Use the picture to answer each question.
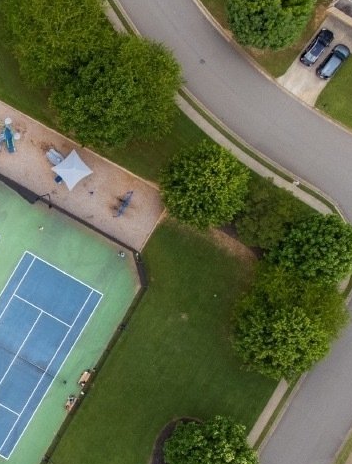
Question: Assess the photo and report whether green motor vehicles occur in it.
No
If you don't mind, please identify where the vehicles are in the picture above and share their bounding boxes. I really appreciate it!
[315,42,349,81]
[298,29,333,67]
